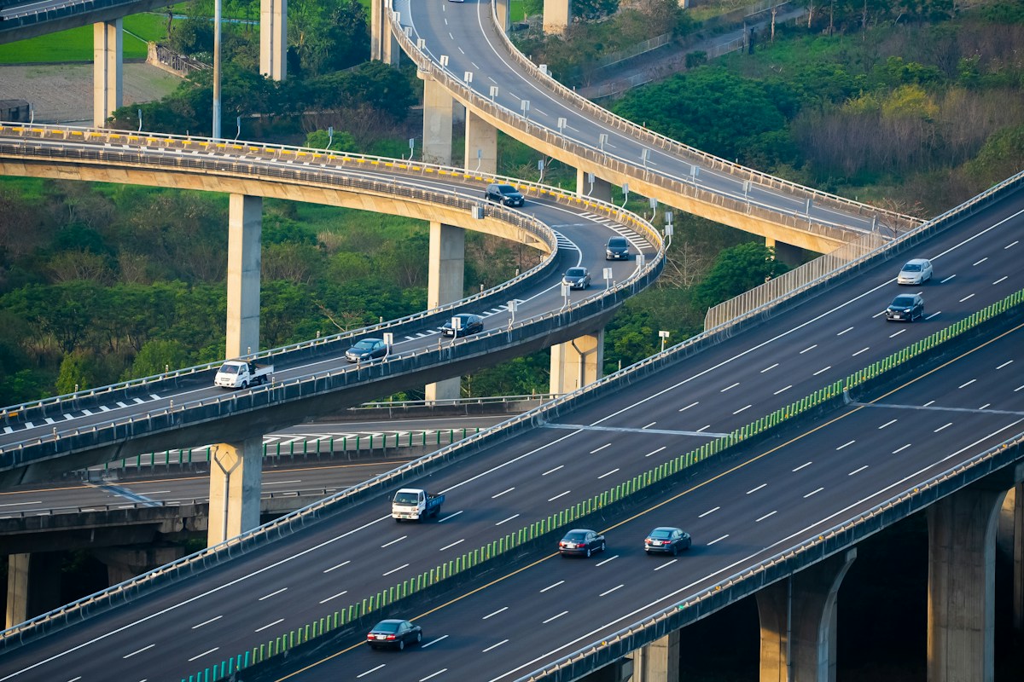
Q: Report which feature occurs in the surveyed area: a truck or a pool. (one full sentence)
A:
I can see a truck in this picture.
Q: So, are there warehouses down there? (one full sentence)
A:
No, no warehouse is visible in the view.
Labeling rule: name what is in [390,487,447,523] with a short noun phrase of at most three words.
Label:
truck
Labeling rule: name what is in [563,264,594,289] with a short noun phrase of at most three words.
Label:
car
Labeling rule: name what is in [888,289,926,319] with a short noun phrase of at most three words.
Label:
car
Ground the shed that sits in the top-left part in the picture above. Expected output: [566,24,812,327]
[0,93,30,124]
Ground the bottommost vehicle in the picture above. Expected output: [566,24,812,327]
[370,615,425,647]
